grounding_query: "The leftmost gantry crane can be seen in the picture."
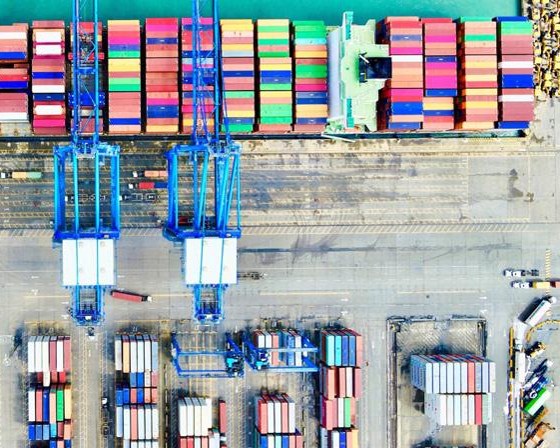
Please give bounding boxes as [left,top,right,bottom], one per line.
[51,0,122,327]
